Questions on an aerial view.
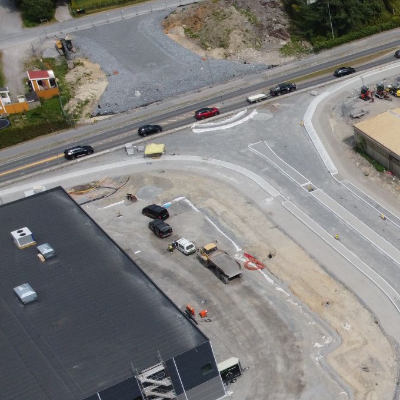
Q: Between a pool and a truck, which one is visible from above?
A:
truck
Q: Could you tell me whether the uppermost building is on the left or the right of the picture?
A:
left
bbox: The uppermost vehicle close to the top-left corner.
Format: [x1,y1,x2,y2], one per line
[57,38,70,53]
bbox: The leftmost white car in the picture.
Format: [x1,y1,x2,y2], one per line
[171,236,197,255]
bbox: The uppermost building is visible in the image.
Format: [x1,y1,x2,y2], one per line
[24,74,59,97]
